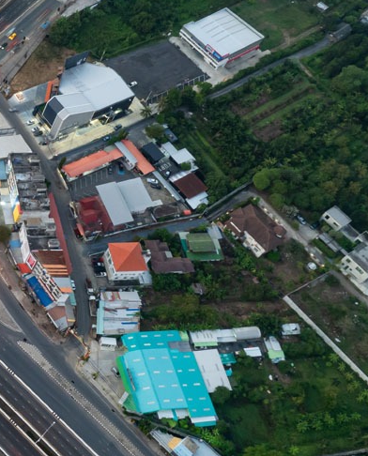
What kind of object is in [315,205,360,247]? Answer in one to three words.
house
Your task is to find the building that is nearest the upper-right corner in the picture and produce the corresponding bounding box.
[175,8,264,75]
